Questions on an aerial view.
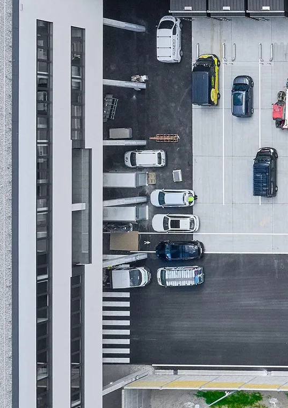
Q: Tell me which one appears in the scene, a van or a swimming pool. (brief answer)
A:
van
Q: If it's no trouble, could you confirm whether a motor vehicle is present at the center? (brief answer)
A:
Yes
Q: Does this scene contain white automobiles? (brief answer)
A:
Yes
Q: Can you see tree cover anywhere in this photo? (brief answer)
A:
No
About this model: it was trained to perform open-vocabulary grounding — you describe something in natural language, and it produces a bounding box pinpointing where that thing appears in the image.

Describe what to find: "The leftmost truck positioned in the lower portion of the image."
[104,266,154,288]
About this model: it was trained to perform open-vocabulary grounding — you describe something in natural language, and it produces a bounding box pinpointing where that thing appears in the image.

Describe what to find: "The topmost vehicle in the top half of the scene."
[157,17,185,64]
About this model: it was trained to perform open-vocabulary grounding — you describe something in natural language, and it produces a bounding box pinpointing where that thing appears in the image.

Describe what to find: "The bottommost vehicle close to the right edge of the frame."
[252,148,280,199]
